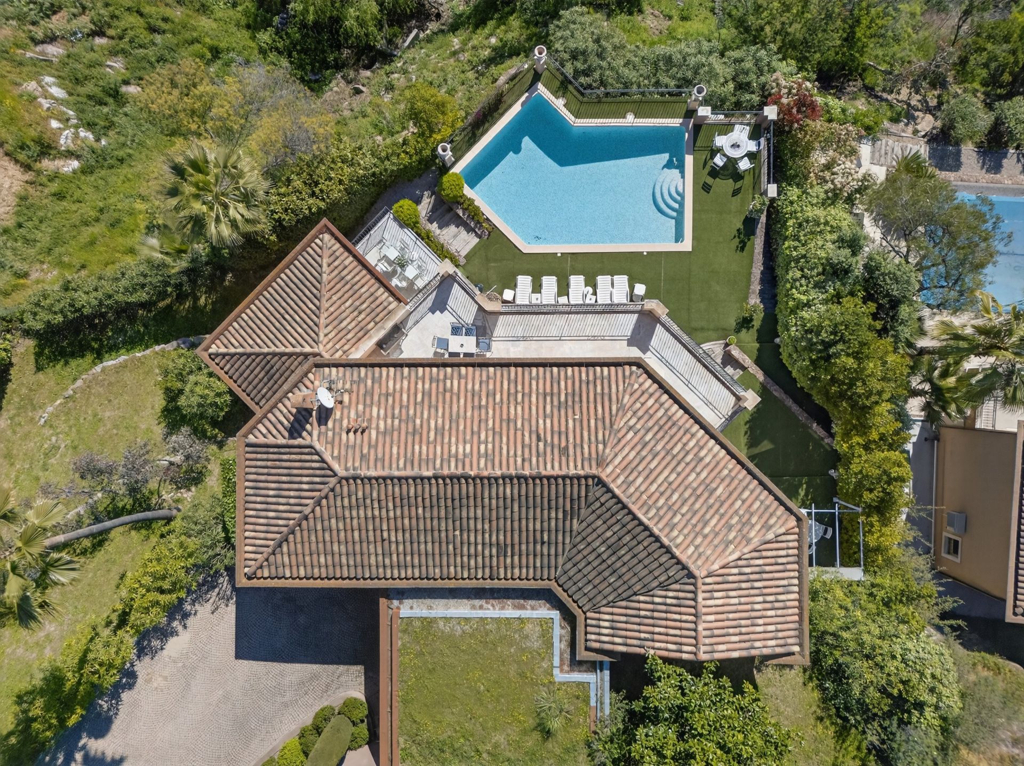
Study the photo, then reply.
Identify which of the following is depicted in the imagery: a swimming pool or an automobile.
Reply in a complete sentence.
Of the two, only a swimming pool appears.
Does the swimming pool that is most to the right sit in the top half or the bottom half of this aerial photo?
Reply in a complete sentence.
Seen from above, the swimming pool that is most to the right lies in the top half of the view.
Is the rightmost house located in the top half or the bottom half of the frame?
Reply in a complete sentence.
The rightmost house sits in the bottom half of the picture.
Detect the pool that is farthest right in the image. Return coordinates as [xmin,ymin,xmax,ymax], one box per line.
[926,188,1024,307]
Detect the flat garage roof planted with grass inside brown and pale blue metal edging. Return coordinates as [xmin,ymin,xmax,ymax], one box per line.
[379,588,609,766]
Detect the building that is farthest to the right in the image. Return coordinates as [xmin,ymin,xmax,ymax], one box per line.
[937,420,1024,623]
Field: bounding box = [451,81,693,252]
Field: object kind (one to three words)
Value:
swimming pool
